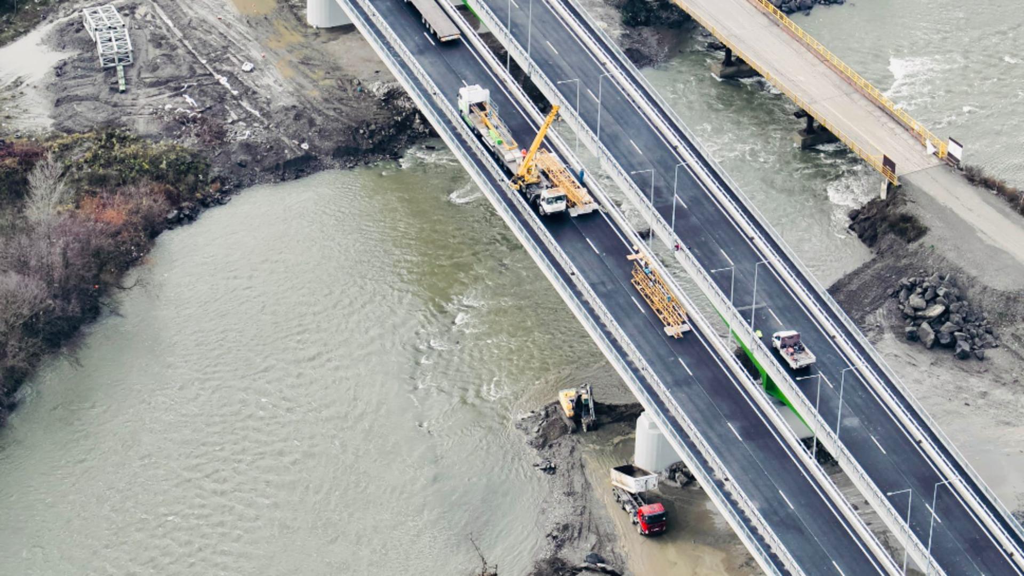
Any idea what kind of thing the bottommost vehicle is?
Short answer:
truck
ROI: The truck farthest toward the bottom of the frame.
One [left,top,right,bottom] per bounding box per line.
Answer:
[613,466,669,535]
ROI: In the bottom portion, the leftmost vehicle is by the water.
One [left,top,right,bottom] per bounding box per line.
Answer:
[556,391,599,437]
